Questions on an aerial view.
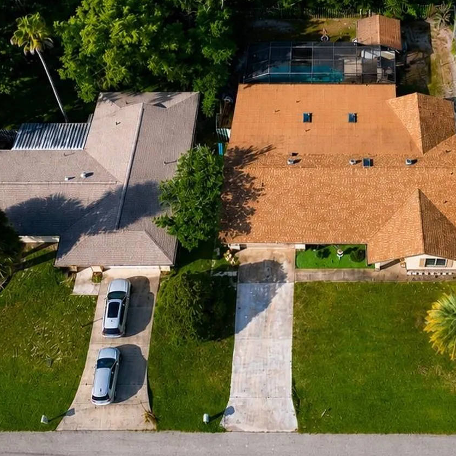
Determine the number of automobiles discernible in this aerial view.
two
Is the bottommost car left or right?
left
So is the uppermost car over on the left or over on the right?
left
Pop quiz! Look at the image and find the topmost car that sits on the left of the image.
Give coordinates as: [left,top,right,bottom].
[101,280,132,338]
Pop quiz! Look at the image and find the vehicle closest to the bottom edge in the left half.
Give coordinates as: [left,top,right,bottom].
[90,349,122,406]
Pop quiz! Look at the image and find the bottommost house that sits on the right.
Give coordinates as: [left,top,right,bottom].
[222,83,456,272]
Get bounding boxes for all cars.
[101,280,132,338]
[90,349,122,406]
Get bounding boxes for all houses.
[222,83,456,272]
[0,91,197,284]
